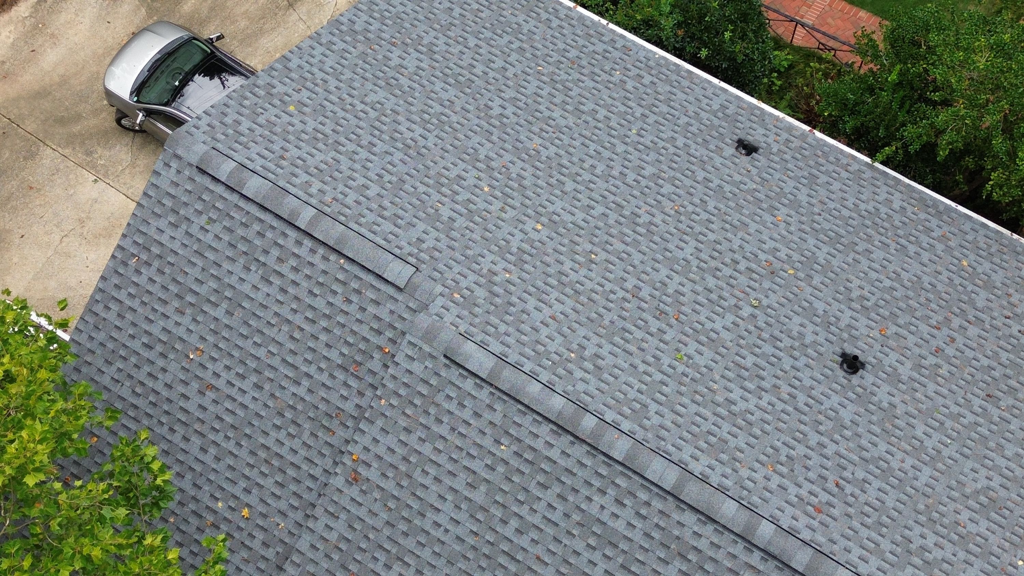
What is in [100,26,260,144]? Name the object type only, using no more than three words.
car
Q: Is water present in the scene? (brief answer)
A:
No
